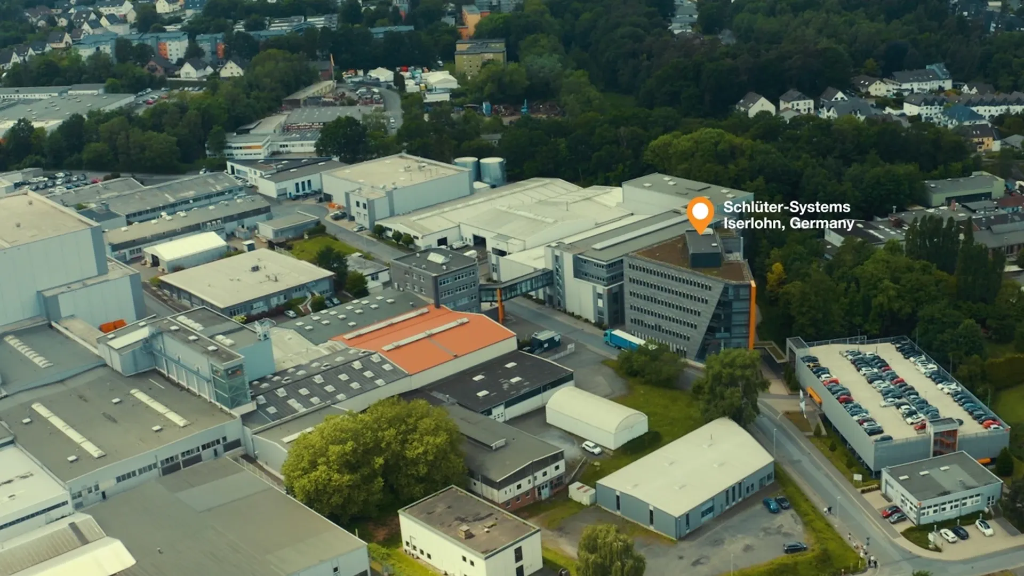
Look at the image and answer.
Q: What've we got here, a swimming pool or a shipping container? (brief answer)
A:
shipping container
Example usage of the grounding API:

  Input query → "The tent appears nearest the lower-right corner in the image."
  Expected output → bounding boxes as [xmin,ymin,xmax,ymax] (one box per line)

[545,383,648,449]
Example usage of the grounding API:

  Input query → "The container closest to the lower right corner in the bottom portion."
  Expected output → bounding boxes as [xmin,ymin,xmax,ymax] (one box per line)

[566,480,596,507]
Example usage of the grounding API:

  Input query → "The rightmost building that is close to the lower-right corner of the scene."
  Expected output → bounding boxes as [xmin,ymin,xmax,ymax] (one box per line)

[880,451,1011,526]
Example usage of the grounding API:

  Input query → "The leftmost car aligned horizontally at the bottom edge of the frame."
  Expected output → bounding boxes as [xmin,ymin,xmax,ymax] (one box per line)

[781,542,809,554]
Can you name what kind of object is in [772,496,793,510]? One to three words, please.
car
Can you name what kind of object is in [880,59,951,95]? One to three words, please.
house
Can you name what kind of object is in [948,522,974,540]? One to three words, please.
car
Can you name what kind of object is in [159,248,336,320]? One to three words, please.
building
